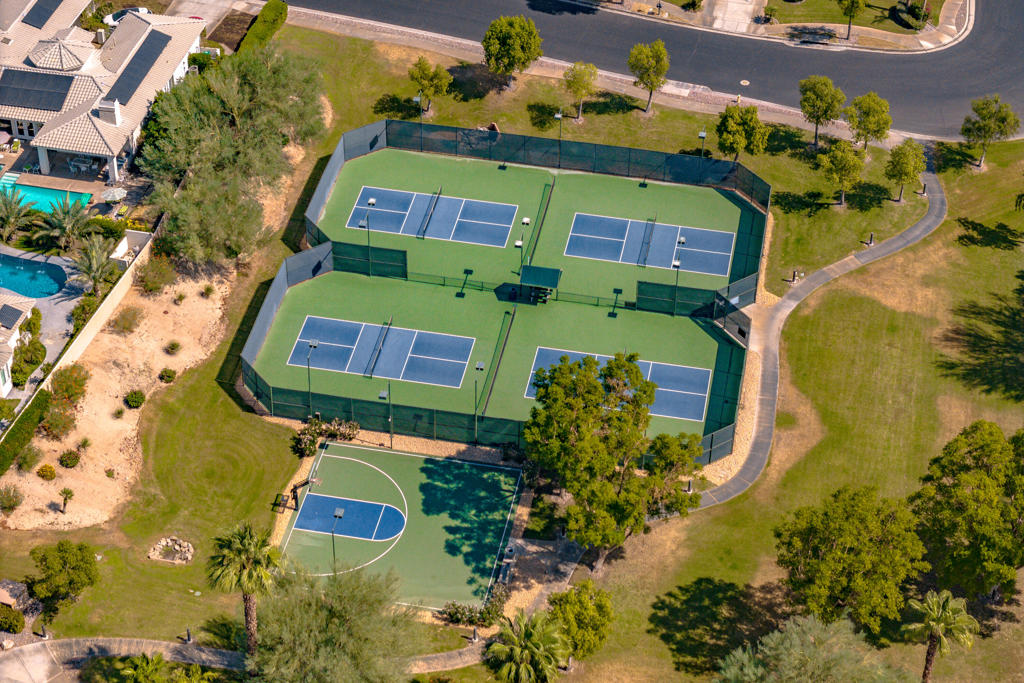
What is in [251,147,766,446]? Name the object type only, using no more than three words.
sports court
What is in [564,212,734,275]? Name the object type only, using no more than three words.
sports court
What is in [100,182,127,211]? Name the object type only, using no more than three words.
umbrella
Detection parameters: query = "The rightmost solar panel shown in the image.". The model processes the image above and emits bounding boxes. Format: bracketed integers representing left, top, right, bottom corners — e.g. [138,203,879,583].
[105,29,171,105]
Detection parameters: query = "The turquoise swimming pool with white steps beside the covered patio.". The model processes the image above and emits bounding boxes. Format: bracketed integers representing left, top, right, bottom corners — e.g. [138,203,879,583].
[0,169,97,218]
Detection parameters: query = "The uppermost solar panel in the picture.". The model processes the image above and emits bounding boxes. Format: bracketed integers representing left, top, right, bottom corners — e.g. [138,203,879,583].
[21,0,71,31]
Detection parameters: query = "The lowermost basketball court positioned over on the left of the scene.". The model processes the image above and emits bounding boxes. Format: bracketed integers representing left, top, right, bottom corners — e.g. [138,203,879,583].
[272,440,522,621]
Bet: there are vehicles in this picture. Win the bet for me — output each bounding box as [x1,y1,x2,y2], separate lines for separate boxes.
[102,2,153,27]
[189,16,206,28]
